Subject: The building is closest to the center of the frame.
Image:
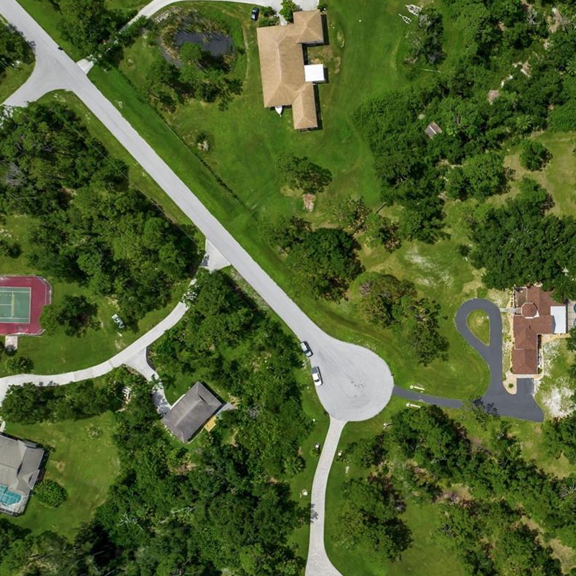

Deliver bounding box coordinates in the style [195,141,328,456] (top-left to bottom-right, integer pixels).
[162,381,224,442]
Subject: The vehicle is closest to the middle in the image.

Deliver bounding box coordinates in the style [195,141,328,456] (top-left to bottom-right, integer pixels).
[300,341,313,357]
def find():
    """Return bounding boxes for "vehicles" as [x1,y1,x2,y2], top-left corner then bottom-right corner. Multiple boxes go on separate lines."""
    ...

[252,7,260,21]
[300,341,313,357]
[312,366,323,386]
[112,314,124,326]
